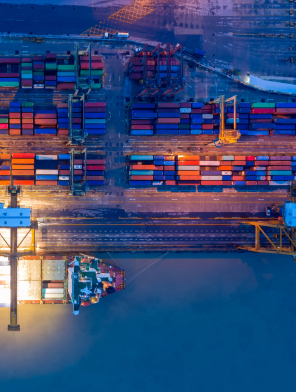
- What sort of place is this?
port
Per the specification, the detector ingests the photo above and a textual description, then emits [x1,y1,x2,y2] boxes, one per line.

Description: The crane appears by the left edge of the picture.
[0,185,40,333]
